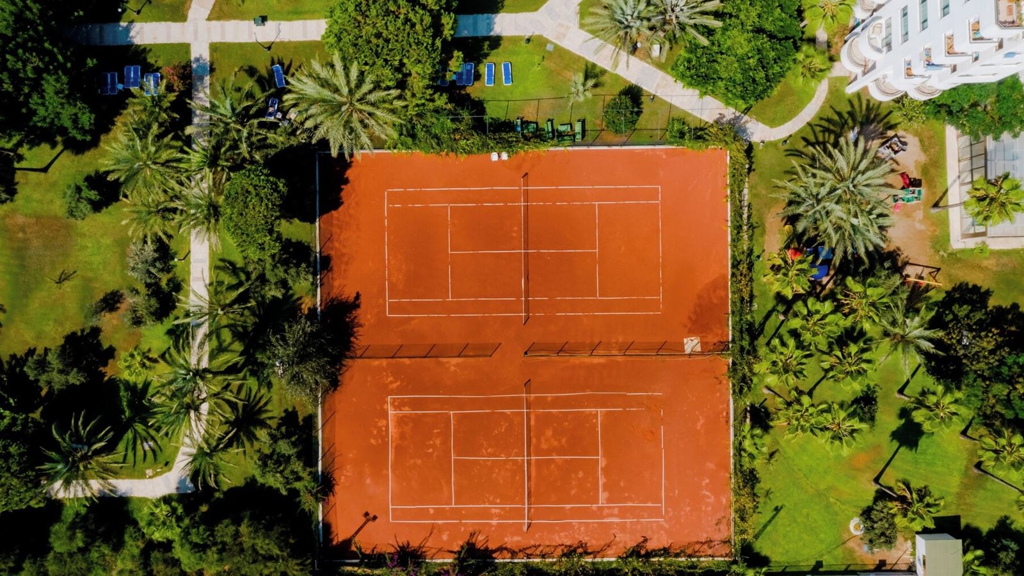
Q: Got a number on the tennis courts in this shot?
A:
2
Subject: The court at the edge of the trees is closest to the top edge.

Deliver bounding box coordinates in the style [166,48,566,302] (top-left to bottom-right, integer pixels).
[319,149,730,356]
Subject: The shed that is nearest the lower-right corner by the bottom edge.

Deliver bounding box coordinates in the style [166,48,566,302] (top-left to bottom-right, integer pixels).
[915,534,963,576]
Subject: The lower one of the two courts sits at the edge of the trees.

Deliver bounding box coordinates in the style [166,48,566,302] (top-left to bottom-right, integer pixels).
[321,354,732,560]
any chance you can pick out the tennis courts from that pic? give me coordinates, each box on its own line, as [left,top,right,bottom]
[321,354,732,560]
[319,149,730,356]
